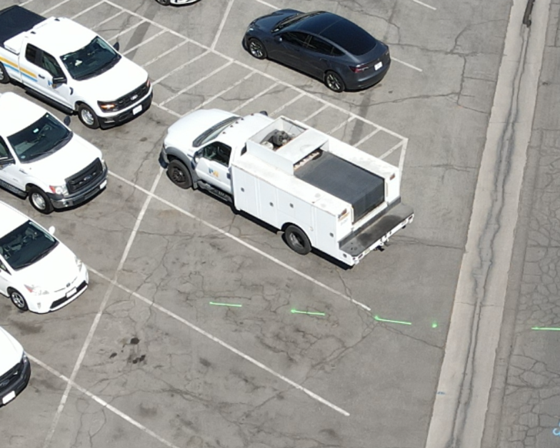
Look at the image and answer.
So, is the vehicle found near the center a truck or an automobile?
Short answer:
truck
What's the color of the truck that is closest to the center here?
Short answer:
white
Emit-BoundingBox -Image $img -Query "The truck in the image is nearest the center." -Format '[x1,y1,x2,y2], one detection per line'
[155,107,416,271]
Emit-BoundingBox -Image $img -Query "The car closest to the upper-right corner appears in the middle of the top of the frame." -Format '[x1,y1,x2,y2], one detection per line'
[248,5,395,92]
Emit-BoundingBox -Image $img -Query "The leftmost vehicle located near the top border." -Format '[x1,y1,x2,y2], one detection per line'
[0,4,156,128]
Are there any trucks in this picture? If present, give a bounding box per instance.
[0,94,112,214]
[0,334,31,404]
[0,4,156,128]
[155,107,416,271]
